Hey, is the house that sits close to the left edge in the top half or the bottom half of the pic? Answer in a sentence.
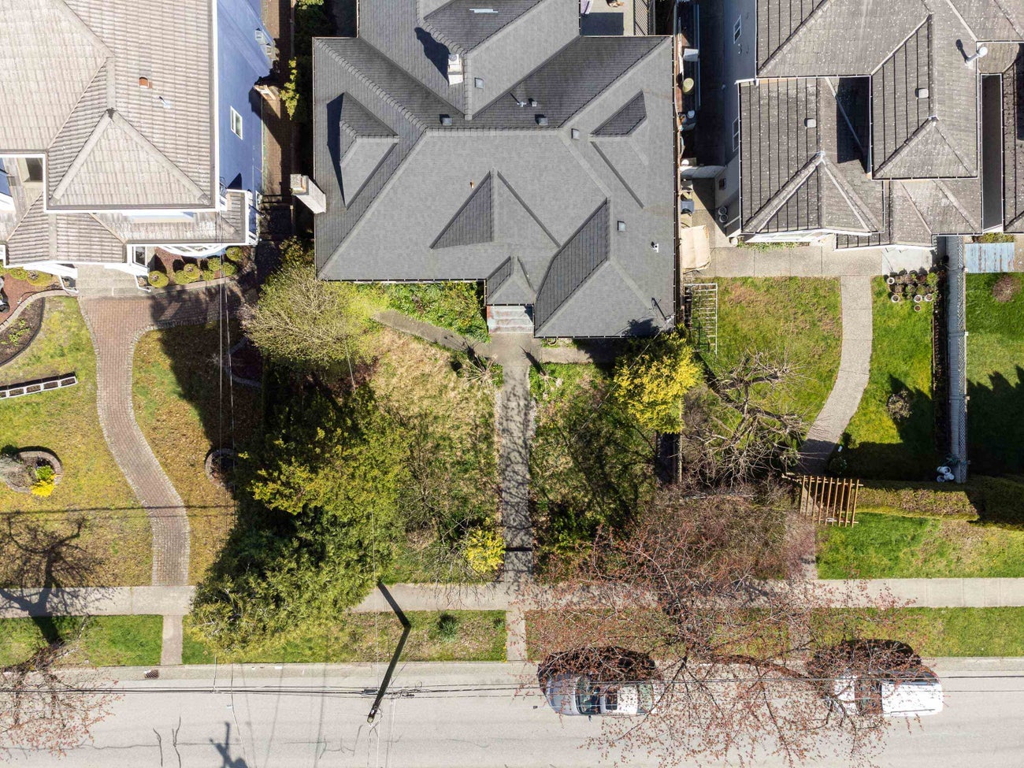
The house that sits close to the left edge sits in the top half of the picture.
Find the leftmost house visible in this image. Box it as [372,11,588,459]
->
[0,0,269,279]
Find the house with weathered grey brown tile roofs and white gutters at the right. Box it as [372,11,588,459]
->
[720,0,1024,251]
